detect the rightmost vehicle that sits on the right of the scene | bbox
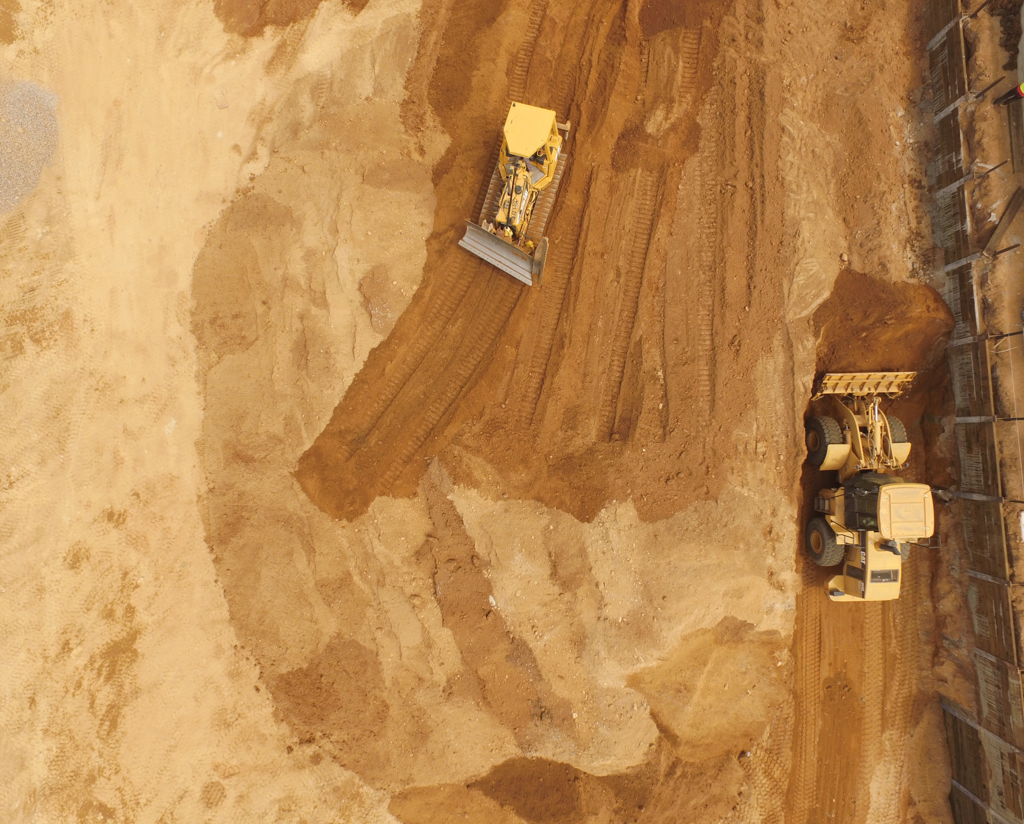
[800,371,937,601]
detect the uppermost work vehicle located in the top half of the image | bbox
[462,101,572,286]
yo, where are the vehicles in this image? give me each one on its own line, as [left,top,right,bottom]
[462,101,572,286]
[800,371,937,601]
